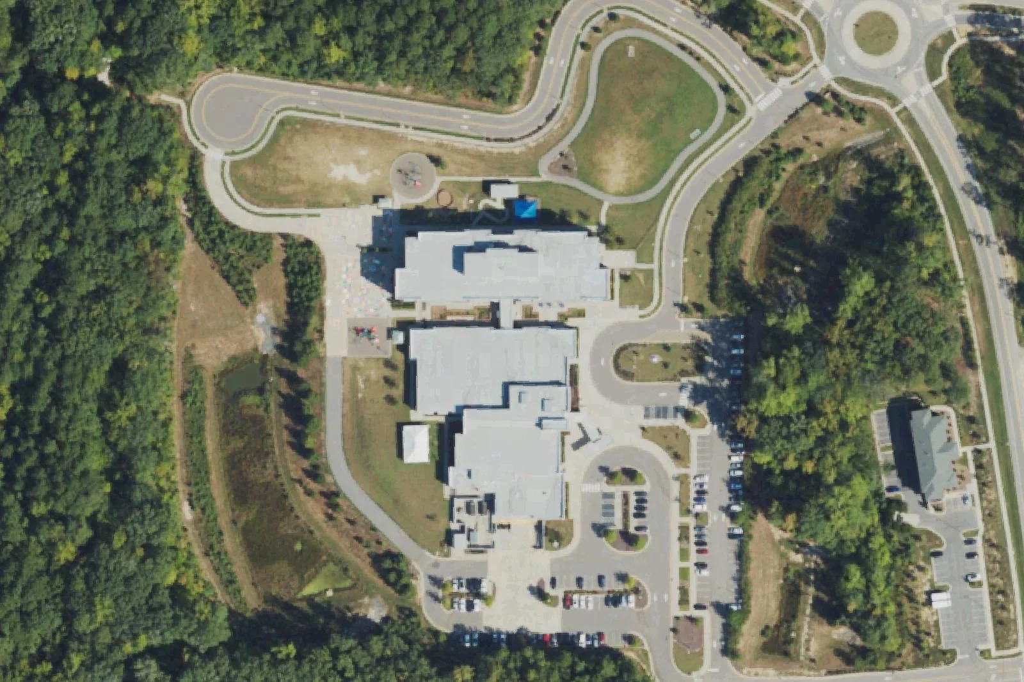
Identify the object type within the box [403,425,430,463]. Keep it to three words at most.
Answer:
tent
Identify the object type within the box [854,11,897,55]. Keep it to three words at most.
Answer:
roundabout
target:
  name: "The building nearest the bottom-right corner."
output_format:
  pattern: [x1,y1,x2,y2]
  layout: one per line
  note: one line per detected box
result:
[911,407,961,503]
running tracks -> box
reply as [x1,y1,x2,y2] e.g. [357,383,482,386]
[538,28,726,204]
